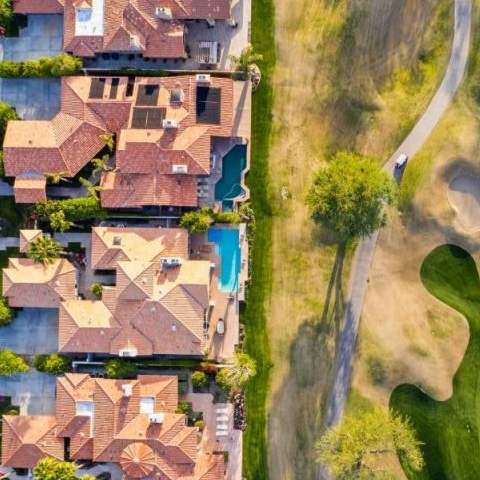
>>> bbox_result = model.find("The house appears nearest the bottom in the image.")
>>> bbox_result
[2,372,226,480]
